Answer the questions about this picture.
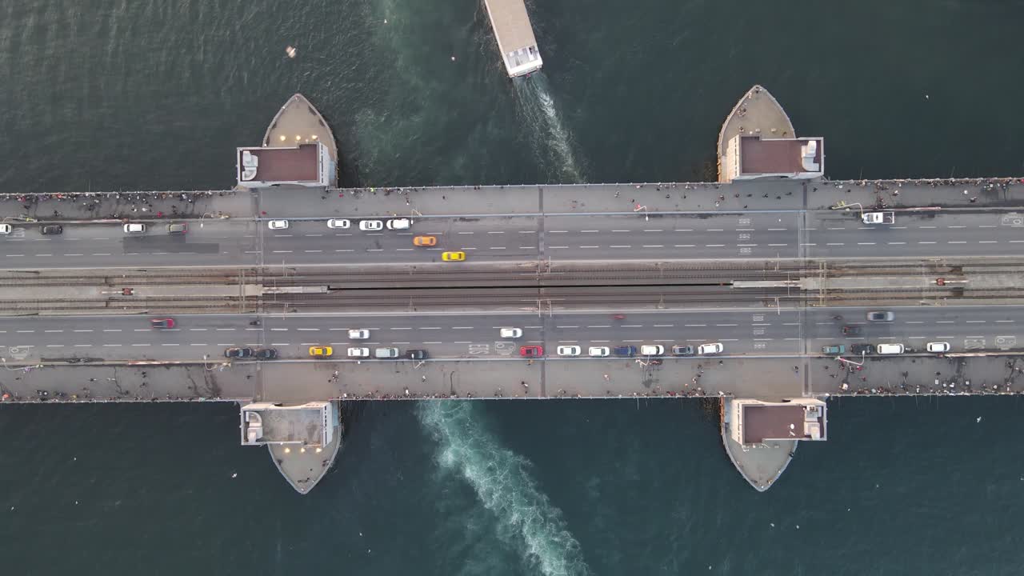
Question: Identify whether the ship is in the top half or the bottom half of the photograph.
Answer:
top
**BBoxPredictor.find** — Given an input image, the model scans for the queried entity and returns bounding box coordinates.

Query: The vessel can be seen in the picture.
[482,0,540,79]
